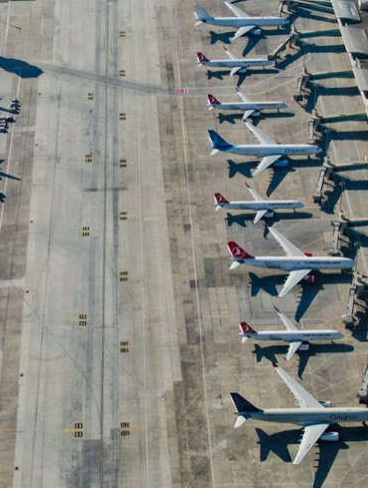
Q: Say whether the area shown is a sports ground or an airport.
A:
airport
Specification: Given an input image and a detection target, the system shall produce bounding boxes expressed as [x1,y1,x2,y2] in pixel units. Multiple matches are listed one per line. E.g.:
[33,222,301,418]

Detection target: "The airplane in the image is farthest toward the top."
[196,0,289,37]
